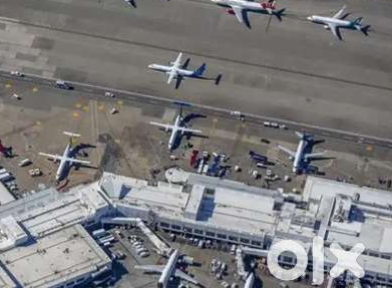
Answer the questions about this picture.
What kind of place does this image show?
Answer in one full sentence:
This looks like an airport.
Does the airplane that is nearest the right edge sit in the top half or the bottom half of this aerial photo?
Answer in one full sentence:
You can find the airplane that is nearest the right edge in the top half.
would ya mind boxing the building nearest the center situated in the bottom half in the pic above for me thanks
[101,168,278,250]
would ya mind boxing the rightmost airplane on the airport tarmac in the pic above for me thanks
[307,6,364,35]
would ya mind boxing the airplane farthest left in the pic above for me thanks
[39,131,91,180]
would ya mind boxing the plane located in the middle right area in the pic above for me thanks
[276,127,326,175]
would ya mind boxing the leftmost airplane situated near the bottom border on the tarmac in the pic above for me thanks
[132,251,197,288]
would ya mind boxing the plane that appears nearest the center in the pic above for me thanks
[150,102,202,148]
